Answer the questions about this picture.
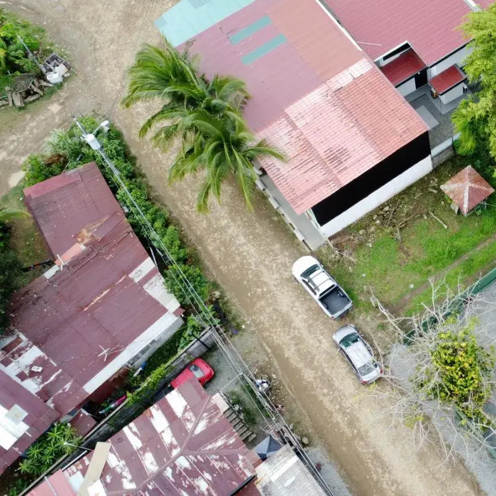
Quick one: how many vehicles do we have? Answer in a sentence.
In total, there are 3 vehicles in the scene.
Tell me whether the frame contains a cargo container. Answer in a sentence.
No, the picture doesn't show any cargo container.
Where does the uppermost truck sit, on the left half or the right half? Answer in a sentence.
You can find the uppermost truck on the right side of the picture.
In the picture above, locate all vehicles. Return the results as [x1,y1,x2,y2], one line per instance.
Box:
[157,357,220,398]
[296,257,355,324]
[334,326,383,385]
